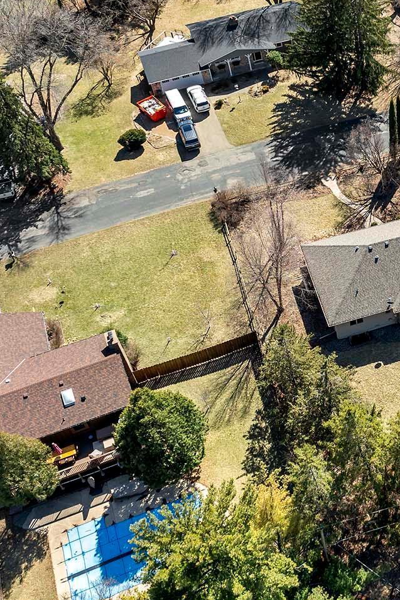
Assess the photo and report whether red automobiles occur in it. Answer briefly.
No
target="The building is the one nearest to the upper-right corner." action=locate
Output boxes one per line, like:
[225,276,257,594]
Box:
[137,1,307,97]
